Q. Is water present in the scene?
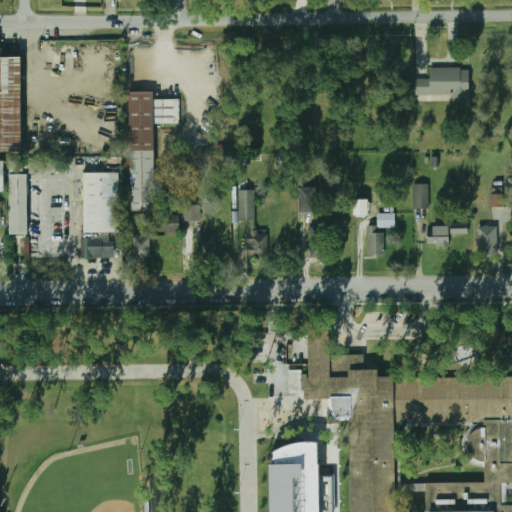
No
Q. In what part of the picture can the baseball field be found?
bottom left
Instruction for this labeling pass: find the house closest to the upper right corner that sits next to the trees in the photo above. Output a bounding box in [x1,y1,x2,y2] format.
[417,66,470,101]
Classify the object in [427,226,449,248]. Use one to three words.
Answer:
house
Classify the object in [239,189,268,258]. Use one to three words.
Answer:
house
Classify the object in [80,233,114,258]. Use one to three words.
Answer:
building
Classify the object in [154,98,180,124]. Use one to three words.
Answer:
building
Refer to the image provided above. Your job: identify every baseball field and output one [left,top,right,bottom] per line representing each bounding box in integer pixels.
[16,436,140,512]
